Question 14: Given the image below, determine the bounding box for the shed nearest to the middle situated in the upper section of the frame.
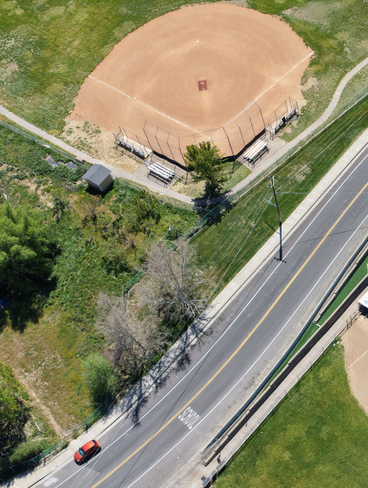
[82,164,113,193]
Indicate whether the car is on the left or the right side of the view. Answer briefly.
left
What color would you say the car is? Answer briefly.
red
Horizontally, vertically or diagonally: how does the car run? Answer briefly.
diagonally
